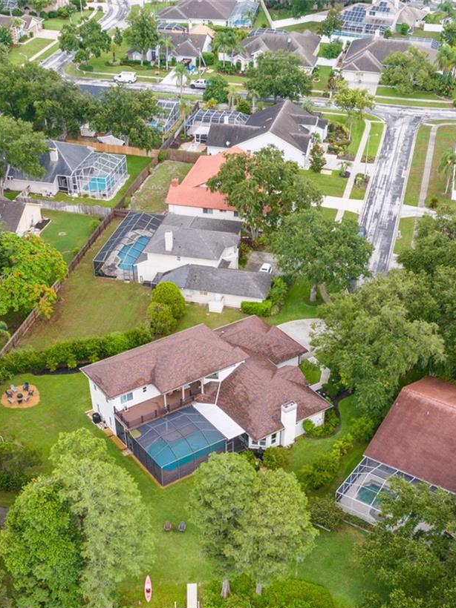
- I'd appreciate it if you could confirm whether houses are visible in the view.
Yes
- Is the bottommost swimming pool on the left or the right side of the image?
right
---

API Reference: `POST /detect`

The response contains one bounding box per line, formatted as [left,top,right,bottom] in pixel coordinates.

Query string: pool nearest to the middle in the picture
[93,231,152,282]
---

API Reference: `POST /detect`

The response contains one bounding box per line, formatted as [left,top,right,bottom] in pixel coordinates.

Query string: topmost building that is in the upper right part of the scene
[340,0,427,36]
